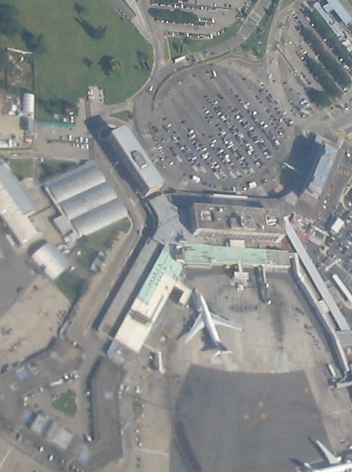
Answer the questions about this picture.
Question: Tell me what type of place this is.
airport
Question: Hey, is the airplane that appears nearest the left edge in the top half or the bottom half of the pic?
bottom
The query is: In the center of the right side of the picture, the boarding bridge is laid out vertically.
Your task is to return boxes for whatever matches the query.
[258,265,271,305]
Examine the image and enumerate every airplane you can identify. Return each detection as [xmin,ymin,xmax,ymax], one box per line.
[300,443,352,472]
[188,289,241,353]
